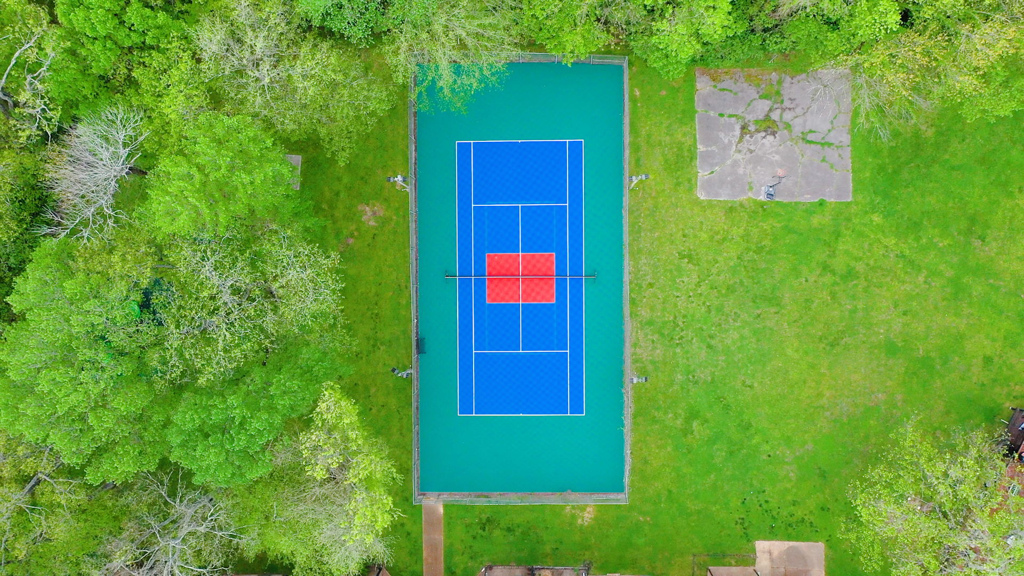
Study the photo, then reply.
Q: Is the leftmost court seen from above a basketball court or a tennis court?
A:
tennis court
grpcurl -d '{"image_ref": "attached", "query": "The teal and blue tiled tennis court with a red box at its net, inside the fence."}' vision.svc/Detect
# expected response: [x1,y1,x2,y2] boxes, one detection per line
[412,60,629,497]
